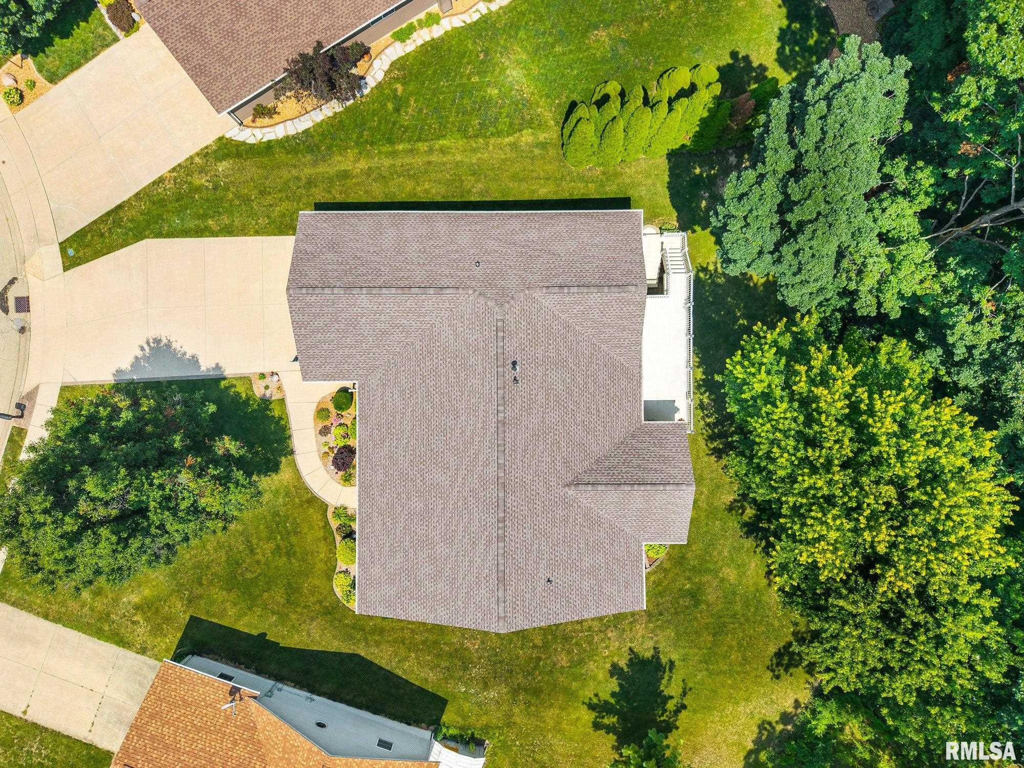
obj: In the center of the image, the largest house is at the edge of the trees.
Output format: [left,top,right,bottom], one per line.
[285,210,695,636]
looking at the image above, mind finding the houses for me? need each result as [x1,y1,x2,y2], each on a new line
[141,0,455,132]
[285,210,695,636]
[111,656,440,768]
